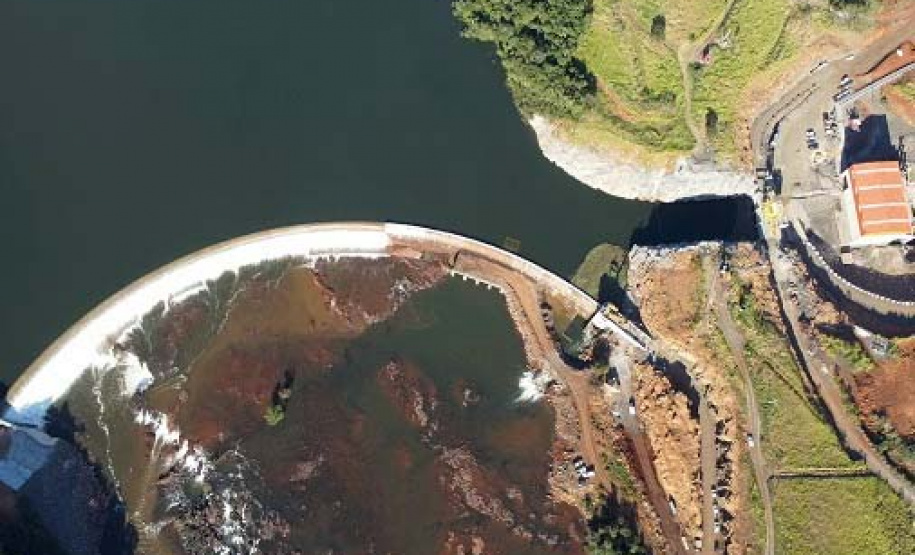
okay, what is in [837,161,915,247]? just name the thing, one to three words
building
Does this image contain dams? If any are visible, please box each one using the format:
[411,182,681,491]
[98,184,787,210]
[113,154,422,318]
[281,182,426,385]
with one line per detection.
[0,218,601,426]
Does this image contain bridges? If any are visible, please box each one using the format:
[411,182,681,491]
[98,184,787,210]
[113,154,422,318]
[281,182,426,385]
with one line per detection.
[751,196,785,252]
